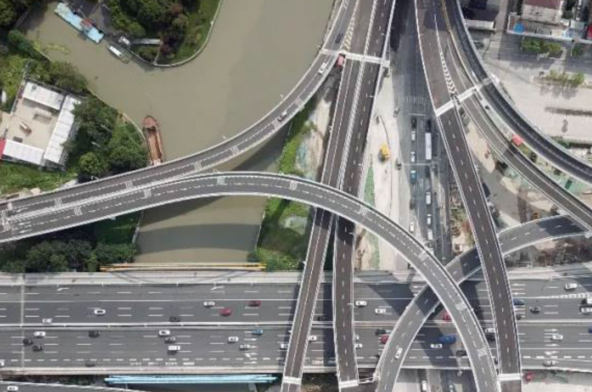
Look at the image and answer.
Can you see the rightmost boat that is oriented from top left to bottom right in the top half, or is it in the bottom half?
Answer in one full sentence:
Seen from above, the rightmost boat that is oriented from top left to bottom right lies in the top half of the view.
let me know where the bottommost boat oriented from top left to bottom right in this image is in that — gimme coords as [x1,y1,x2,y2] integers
[110,44,133,66]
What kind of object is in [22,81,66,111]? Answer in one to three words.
shed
